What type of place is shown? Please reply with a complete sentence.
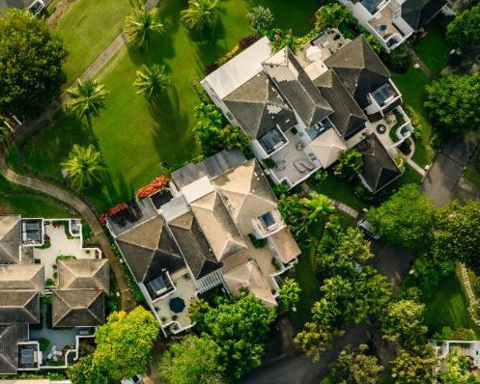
It's a residential area.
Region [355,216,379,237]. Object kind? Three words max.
car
